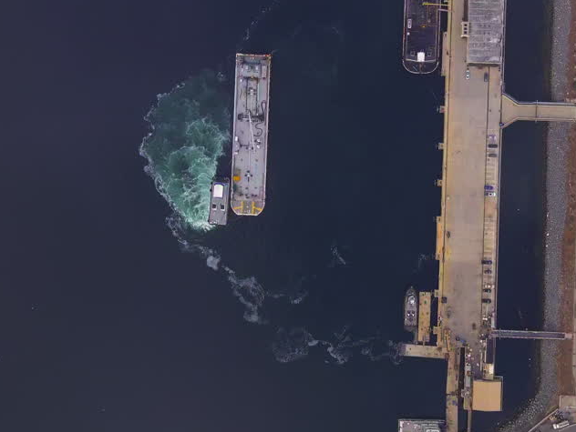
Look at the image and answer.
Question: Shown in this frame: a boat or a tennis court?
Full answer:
There is a boat in the scene.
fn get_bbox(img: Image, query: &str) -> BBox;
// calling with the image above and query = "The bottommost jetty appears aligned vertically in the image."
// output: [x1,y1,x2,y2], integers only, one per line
[445,394,458,432]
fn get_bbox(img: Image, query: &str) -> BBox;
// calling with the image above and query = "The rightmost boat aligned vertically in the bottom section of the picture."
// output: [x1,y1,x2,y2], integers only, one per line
[404,285,417,330]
